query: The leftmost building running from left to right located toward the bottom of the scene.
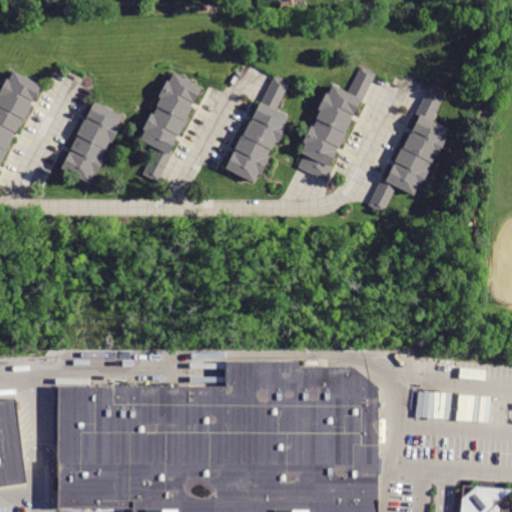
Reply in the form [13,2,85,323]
[58,360,382,512]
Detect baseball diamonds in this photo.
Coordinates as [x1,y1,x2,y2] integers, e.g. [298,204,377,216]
[486,88,512,311]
